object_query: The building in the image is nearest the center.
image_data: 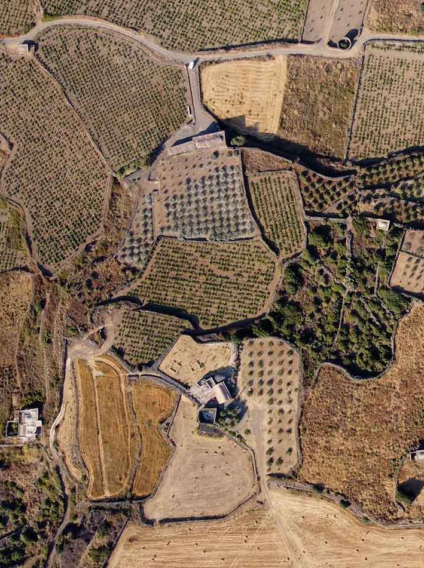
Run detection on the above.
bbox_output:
[188,376,236,404]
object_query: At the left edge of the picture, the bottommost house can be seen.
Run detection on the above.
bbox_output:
[17,408,45,438]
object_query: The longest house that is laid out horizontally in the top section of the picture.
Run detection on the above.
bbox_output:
[167,131,231,158]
